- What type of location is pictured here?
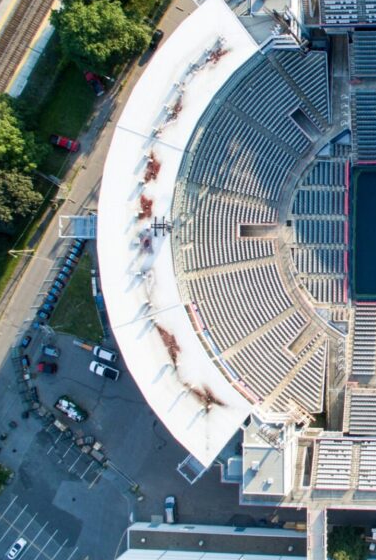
sports ground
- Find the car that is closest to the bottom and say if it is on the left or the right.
left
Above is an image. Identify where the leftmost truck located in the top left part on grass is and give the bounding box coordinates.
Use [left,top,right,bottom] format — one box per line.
[47,131,78,153]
